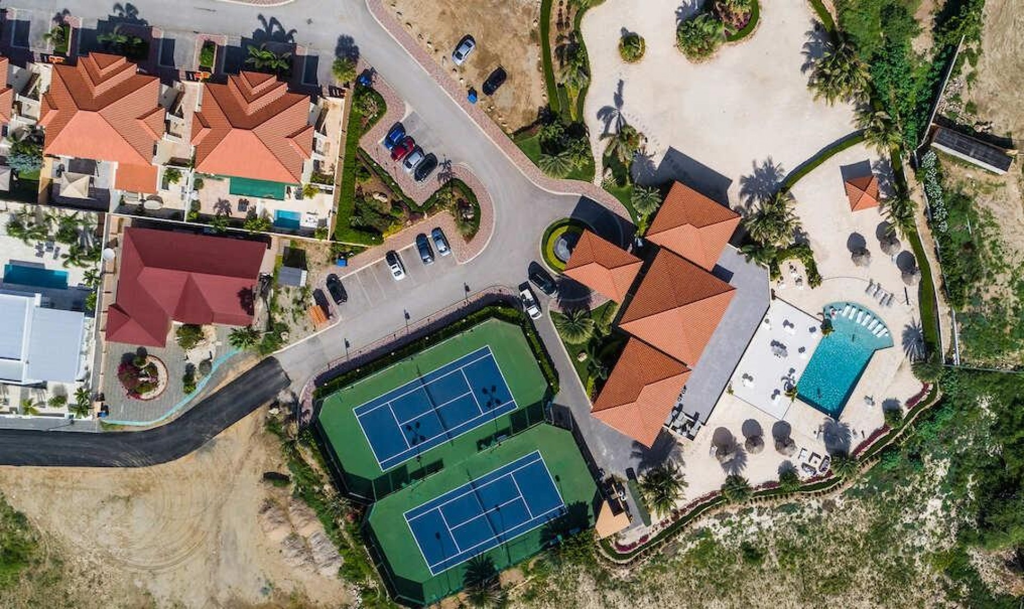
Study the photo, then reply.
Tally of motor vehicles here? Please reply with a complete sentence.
In total, 12 motor vehicles can be seen.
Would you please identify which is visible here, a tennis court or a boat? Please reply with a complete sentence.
This aerial view contains a tennis court.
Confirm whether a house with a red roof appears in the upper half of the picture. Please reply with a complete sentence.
Yes, looking in the upper half of the picture, one can make out a house with a red roof.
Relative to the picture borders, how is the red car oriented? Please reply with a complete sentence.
The red car has been laid out diagonally relative to the frame.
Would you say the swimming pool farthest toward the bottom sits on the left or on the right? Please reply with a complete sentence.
The swimming pool farthest toward the bottom is on the right side of the image.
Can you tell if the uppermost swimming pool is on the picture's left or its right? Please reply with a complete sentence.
You can find the uppermost swimming pool on the left side of the picture.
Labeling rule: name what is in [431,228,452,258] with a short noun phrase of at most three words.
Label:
car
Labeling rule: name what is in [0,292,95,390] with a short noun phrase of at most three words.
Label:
house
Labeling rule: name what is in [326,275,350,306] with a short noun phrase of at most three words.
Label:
car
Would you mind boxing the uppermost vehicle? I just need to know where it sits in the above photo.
[452,37,475,66]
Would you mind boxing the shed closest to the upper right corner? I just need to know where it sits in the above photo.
[924,126,1017,175]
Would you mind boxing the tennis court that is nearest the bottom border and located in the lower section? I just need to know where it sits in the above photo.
[367,423,599,606]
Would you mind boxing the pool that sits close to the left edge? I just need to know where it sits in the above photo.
[0,263,69,291]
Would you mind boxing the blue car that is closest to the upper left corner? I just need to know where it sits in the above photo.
[382,126,406,150]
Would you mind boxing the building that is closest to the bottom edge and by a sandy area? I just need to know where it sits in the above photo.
[595,480,630,538]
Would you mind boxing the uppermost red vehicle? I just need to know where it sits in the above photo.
[389,137,417,164]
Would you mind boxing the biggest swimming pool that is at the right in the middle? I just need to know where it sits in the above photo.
[796,299,896,421]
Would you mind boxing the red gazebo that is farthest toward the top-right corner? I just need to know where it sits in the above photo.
[845,175,880,211]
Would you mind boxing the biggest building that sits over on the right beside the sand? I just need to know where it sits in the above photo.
[563,181,772,448]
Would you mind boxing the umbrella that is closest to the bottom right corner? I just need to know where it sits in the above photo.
[776,437,795,456]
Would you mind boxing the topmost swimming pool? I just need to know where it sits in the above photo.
[272,208,303,231]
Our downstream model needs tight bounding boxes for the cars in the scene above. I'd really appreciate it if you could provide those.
[484,69,505,95]
[386,251,407,281]
[400,147,427,174]
[326,275,350,306]
[431,228,452,258]
[530,267,558,297]
[415,235,436,265]
[389,137,417,164]
[412,155,440,184]
[452,37,475,66]
[382,126,406,150]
